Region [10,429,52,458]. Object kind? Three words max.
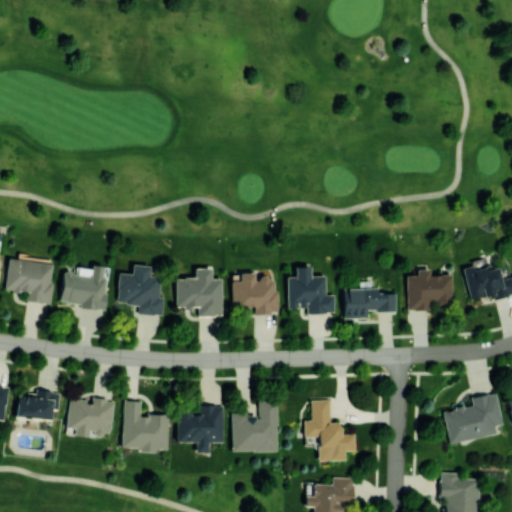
swimming pool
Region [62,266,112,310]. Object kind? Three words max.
house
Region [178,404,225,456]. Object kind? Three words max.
house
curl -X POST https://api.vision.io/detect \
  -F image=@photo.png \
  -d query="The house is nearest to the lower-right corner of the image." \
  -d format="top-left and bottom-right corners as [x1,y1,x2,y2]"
[442,474,482,512]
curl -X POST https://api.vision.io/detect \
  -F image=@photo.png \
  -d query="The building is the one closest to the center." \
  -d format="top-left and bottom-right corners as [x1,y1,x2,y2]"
[232,269,280,314]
